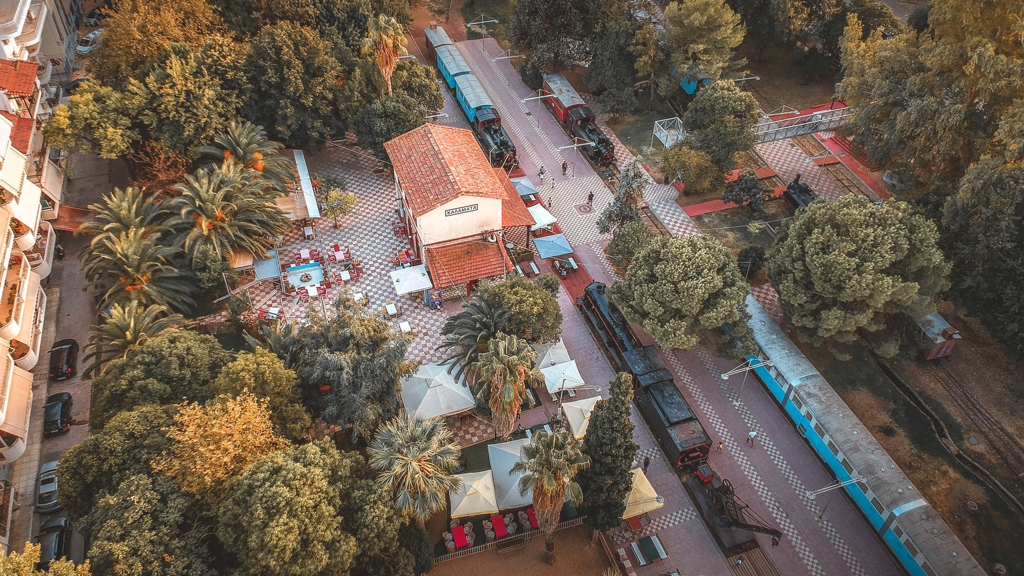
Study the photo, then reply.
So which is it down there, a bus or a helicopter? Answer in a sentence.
Of the two, only a bus appears.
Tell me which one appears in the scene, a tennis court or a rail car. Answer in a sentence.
I can see a rail car in this picture.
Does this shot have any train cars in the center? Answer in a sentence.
Yes, a train car can be seen in the center.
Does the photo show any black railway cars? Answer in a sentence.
Yes, the photo shows a black railway car.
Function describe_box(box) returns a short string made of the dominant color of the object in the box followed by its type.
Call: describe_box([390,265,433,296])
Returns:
white umbrella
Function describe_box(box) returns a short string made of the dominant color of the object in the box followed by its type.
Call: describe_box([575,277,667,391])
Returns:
black rail car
